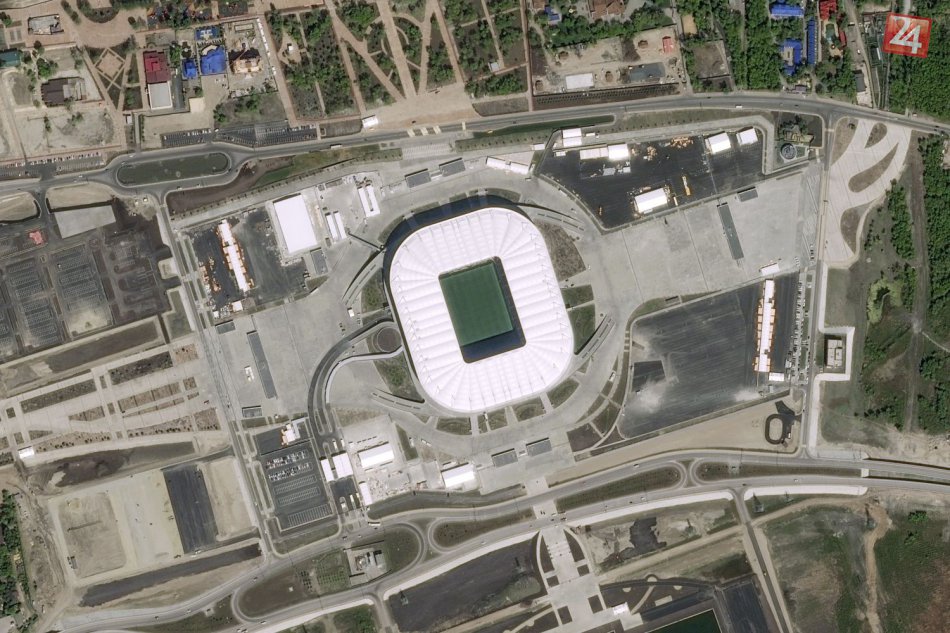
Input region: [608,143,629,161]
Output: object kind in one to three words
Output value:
tent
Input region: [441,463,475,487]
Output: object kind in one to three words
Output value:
tent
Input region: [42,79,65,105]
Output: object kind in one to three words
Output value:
house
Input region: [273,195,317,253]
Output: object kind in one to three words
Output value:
building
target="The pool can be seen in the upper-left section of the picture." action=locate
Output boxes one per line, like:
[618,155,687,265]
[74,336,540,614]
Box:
[196,23,224,40]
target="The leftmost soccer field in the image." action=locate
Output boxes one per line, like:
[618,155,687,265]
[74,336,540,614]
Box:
[440,257,516,348]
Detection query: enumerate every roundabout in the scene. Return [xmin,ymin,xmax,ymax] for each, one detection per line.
[117,152,228,186]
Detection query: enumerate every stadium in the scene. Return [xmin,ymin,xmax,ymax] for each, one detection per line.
[389,207,574,411]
